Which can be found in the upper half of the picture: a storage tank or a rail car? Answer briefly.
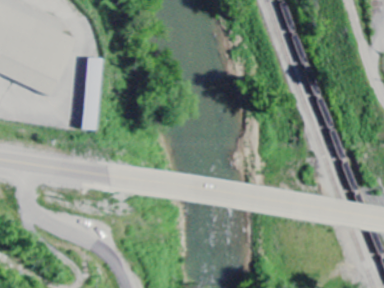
rail car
